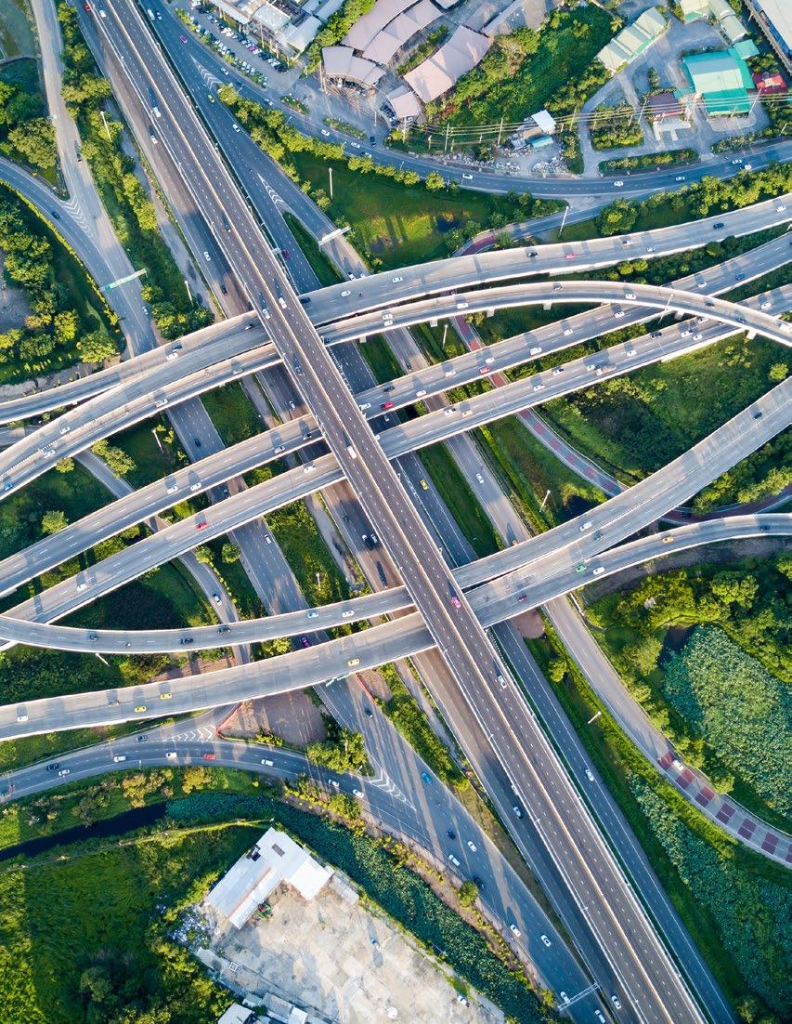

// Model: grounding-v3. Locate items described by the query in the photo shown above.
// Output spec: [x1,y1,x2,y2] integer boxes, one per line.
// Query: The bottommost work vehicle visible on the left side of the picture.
[256,903,270,918]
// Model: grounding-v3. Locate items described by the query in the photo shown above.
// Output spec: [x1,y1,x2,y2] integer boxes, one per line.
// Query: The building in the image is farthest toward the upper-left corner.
[212,0,267,29]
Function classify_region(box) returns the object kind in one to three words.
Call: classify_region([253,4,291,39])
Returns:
building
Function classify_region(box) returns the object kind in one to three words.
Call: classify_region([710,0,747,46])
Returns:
building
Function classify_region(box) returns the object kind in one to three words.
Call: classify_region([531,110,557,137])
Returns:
shed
